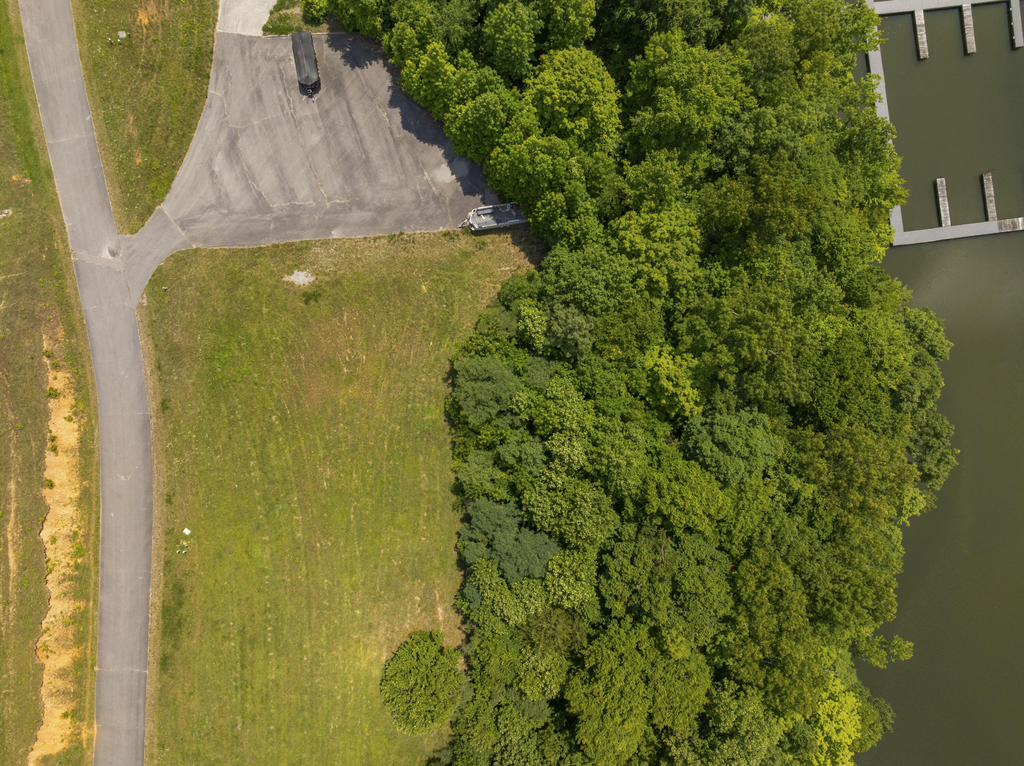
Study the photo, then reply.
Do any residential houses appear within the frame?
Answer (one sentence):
No, there's no residential house here.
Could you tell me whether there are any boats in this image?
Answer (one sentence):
Yes, the photo shows a boat.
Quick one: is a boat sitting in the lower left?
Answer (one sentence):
No, there's no boat to be seen in the lower left.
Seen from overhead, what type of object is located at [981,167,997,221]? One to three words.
pier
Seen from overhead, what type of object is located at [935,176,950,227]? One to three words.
pier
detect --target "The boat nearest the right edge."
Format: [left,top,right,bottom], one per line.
[469,200,527,231]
